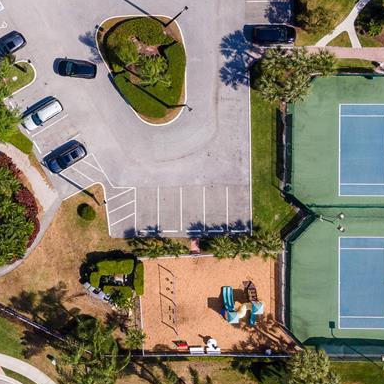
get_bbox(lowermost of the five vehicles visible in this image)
[44,139,87,172]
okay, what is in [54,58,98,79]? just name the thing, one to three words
car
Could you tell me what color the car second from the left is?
white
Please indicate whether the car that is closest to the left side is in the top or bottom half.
top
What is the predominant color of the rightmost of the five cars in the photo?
black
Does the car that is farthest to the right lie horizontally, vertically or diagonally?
horizontally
